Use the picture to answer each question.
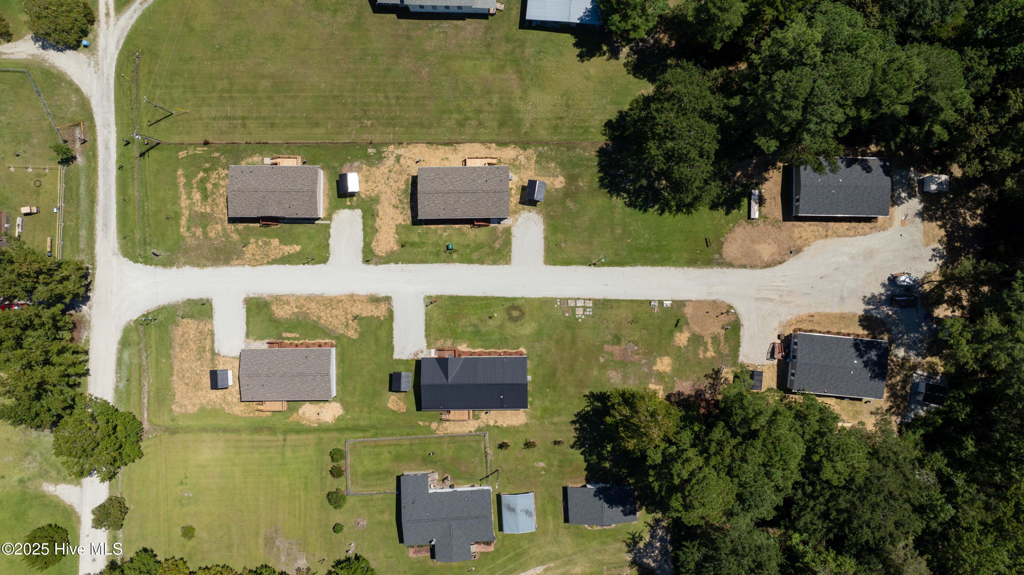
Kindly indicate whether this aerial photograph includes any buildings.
Yes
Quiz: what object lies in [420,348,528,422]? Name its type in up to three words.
house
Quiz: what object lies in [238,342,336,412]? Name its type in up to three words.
house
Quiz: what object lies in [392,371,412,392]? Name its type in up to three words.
shed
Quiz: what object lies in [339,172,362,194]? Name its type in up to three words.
shed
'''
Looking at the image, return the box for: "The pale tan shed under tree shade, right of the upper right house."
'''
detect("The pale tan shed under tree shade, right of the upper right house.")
[923,175,949,191]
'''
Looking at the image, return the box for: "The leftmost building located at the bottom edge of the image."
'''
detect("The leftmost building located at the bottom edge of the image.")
[401,472,493,564]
